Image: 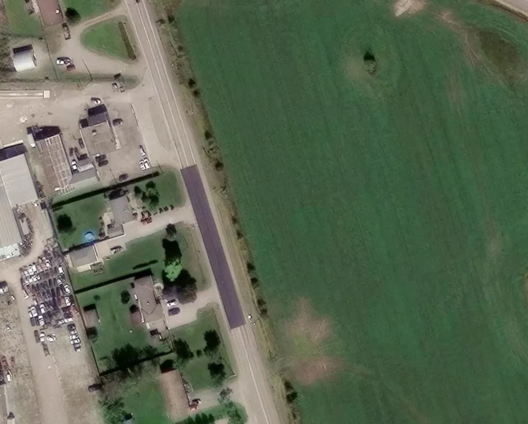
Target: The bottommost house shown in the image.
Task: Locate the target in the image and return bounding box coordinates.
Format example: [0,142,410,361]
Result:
[161,367,192,419]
